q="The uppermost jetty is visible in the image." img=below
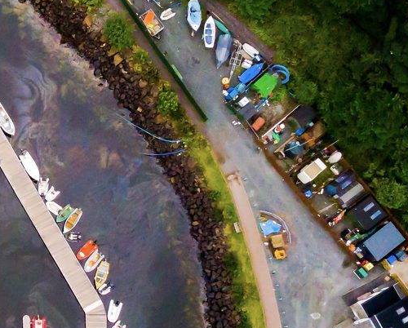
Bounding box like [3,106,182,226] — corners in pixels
[0,126,105,314]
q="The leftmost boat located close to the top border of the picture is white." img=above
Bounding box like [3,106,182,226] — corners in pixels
[160,7,177,20]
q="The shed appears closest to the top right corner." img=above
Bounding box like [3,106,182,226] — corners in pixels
[285,107,317,130]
